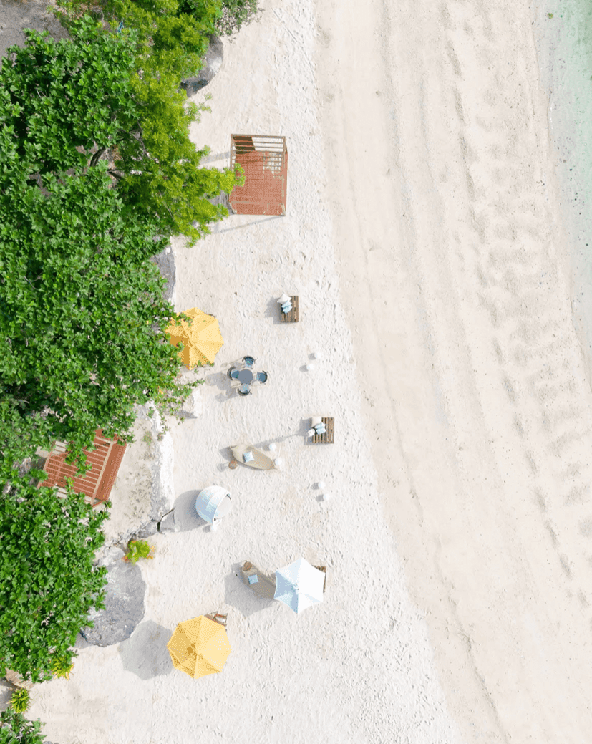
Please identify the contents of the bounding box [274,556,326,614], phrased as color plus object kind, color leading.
white umbrella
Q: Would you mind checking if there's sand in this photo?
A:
Yes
